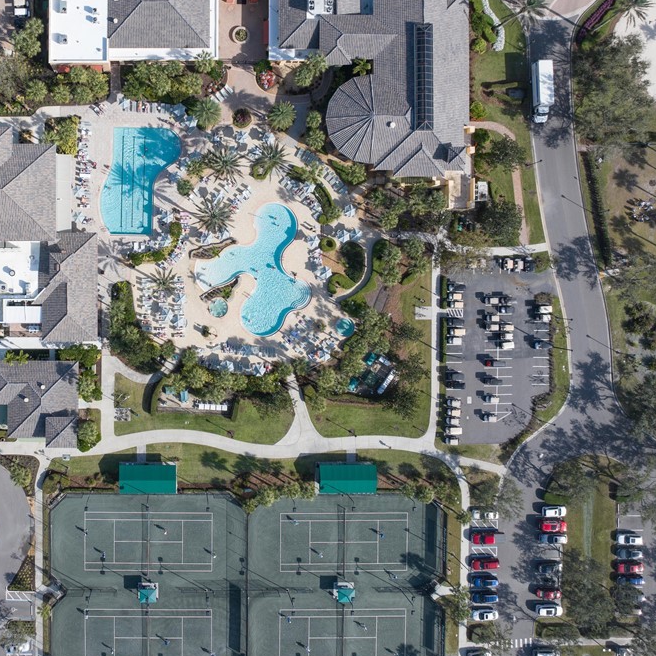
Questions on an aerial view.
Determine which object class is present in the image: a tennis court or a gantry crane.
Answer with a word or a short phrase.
tennis court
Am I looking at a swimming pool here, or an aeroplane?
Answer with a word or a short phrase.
swimming pool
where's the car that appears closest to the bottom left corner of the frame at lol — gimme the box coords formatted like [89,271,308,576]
[6,640,32,654]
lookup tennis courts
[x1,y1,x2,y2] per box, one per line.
[247,591,442,656]
[51,494,247,591]
[51,591,247,656]
[247,495,447,591]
